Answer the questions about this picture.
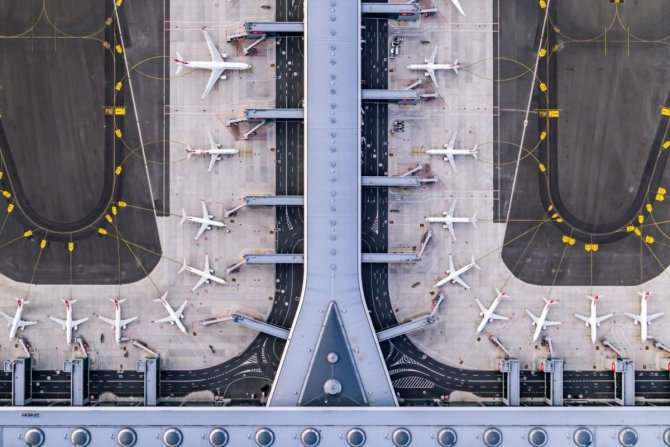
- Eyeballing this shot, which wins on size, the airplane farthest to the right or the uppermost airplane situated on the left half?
the uppermost airplane situated on the left half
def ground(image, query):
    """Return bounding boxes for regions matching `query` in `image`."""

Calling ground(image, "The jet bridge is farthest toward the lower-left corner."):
[16,334,35,359]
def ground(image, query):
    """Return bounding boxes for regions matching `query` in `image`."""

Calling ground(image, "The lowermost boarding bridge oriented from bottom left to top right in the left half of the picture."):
[222,259,245,275]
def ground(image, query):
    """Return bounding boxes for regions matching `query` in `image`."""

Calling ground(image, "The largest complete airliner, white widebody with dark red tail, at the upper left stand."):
[172,27,251,101]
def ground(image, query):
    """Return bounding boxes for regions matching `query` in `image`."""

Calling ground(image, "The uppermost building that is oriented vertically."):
[268,0,397,407]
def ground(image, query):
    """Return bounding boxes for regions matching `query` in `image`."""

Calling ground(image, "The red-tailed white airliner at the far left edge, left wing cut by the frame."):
[0,299,37,340]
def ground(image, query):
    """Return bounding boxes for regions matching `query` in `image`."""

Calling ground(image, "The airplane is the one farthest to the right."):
[625,293,668,342]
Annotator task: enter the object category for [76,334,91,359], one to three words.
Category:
jet bridge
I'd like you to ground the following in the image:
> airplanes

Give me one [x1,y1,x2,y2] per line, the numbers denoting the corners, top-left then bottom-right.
[96,301,137,344]
[408,45,462,86]
[574,298,617,344]
[525,298,566,342]
[182,200,227,241]
[426,130,480,173]
[181,253,226,293]
[172,27,251,101]
[45,300,88,344]
[185,130,239,171]
[426,198,480,241]
[476,291,512,334]
[434,254,479,291]
[625,293,668,342]
[152,295,188,333]
[0,299,37,340]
